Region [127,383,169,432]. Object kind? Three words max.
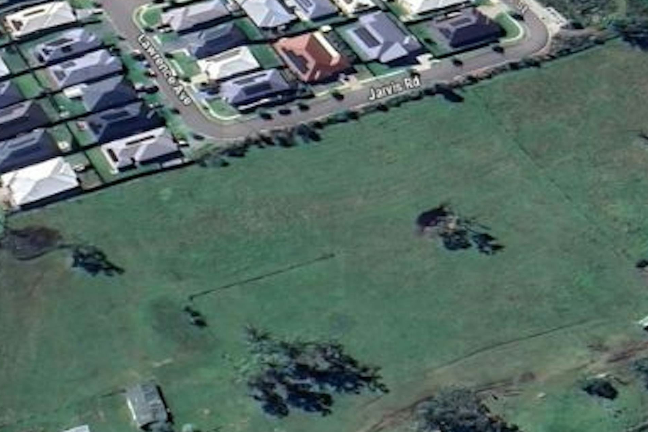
shed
